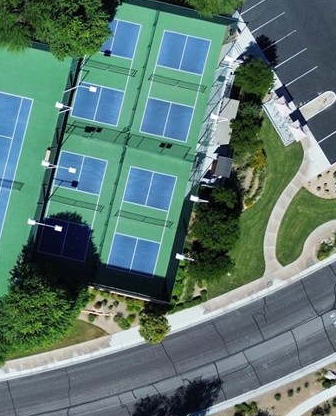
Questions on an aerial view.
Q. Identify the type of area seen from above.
sports ground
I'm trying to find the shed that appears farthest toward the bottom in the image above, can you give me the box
[207,156,233,178]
